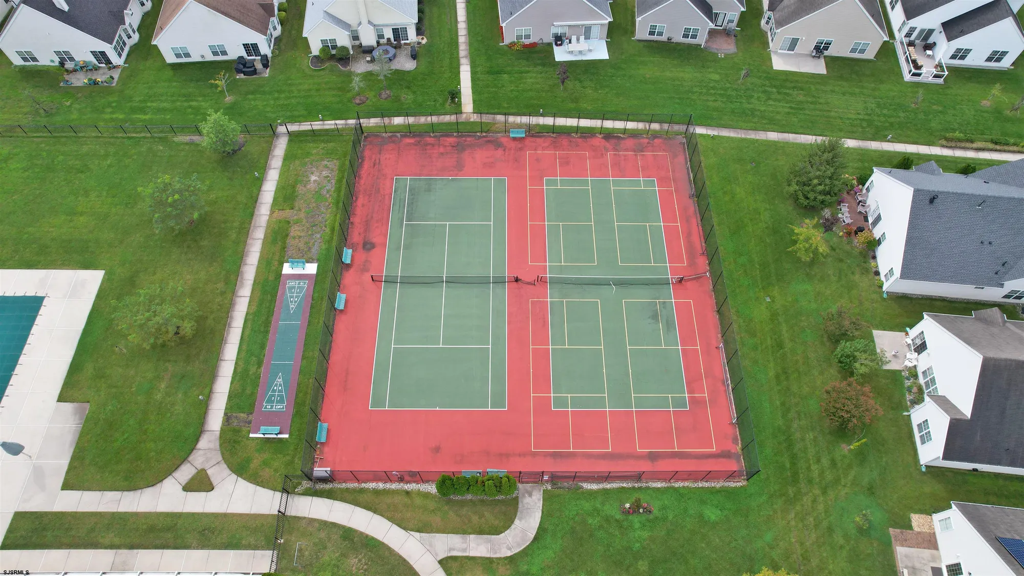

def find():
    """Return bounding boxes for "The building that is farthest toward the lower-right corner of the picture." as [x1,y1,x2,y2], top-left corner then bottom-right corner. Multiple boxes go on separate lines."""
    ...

[931,499,1024,576]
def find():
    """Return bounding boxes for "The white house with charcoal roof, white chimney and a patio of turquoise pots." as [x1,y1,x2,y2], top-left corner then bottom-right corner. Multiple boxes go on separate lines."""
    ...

[0,0,156,66]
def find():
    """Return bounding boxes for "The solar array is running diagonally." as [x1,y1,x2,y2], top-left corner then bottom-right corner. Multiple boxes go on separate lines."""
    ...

[999,540,1024,569]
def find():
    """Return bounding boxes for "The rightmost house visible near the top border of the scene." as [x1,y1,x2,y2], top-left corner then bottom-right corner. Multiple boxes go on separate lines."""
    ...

[888,0,1024,72]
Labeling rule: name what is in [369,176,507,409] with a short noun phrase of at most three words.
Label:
tennis court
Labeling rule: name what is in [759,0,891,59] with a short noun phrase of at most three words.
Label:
house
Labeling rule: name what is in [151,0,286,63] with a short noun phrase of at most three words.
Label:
house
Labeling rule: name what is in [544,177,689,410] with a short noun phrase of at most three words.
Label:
tennis court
